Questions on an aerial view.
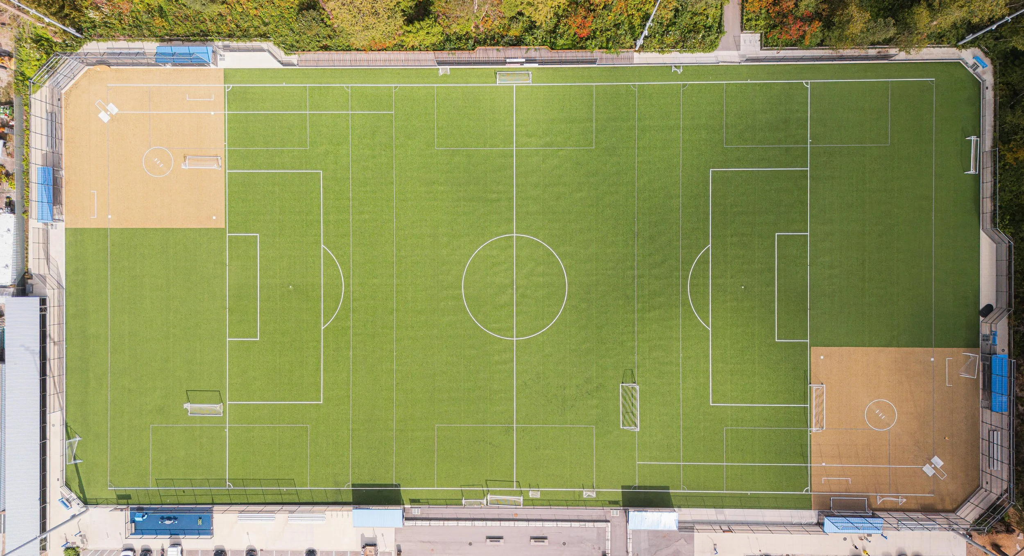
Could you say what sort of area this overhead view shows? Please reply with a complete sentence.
The area seen from above is a sports ground.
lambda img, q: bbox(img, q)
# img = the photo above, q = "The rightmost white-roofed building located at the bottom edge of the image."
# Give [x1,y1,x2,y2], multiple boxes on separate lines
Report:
[626,505,678,531]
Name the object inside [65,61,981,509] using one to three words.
sports field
